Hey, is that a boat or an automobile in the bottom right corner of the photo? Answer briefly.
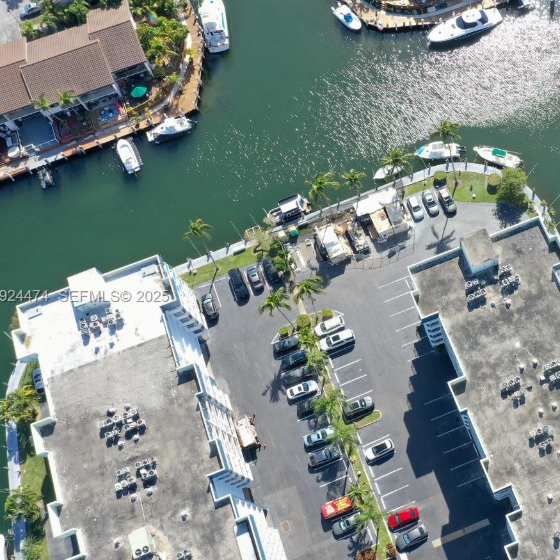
automobile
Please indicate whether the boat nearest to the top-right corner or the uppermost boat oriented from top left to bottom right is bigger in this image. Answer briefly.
the boat nearest to the top-right corner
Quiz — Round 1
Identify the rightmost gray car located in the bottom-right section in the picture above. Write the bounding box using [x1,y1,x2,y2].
[394,524,430,549]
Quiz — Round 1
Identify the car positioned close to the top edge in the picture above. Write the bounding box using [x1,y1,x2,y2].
[17,3,45,22]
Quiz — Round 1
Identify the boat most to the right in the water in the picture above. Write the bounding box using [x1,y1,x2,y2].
[470,145,525,170]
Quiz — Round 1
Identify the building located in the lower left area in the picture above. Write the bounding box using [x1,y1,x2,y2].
[11,255,290,560]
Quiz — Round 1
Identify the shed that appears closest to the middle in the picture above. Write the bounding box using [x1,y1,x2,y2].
[316,225,346,264]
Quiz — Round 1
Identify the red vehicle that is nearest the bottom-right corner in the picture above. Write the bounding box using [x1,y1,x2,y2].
[386,504,421,528]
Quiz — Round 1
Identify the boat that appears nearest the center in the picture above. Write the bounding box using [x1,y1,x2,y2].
[267,199,312,226]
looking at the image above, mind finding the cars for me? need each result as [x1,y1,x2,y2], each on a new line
[363,438,398,463]
[420,188,439,217]
[319,328,356,351]
[278,347,311,371]
[17,3,45,22]
[270,332,303,355]
[260,257,284,287]
[30,367,47,397]
[394,524,430,549]
[437,186,457,216]
[245,265,265,294]
[286,382,320,401]
[386,504,421,528]
[405,193,425,223]
[201,292,221,322]
[313,314,346,337]
[226,265,250,301]
[293,394,323,416]
[280,366,313,385]
[306,447,342,468]
[301,426,335,447]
